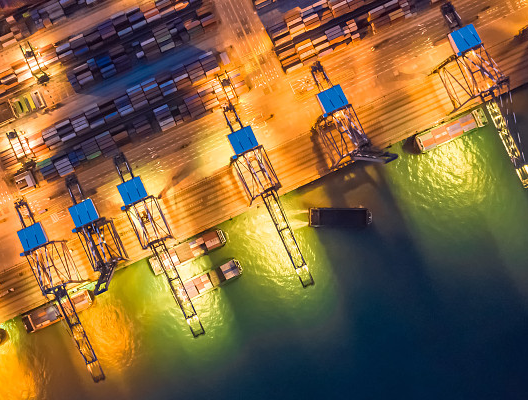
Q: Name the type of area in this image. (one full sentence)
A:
This image shows a port.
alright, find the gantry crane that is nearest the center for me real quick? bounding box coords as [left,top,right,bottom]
[219,101,315,290]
